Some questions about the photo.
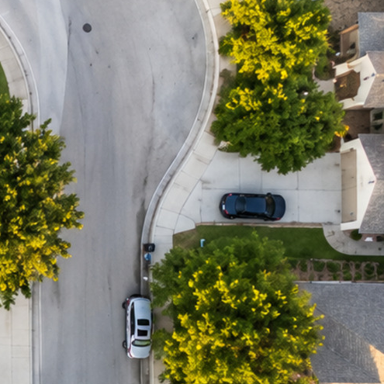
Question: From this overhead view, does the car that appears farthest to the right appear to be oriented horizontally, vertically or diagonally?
horizontally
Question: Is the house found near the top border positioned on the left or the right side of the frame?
right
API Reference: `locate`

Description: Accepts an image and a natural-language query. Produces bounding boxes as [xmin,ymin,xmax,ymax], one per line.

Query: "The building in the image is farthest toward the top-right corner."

[335,11,384,110]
